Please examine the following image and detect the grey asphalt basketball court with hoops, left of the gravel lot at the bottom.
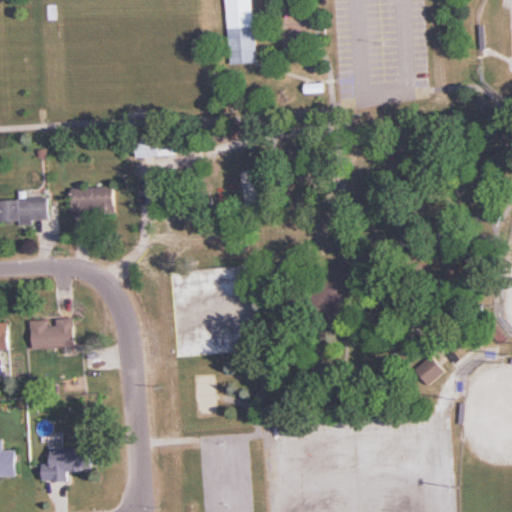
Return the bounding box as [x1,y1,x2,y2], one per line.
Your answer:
[202,436,254,512]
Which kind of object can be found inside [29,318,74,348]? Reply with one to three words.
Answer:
house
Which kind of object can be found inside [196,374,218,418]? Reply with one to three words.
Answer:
sports court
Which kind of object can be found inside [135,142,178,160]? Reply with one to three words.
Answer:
shed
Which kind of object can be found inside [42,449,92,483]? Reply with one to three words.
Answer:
house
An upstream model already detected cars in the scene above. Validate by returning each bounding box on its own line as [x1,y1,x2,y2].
[65,299,70,311]
[46,482,50,494]
[61,485,66,496]
[94,362,105,368]
[416,72,428,78]
[36,222,42,232]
